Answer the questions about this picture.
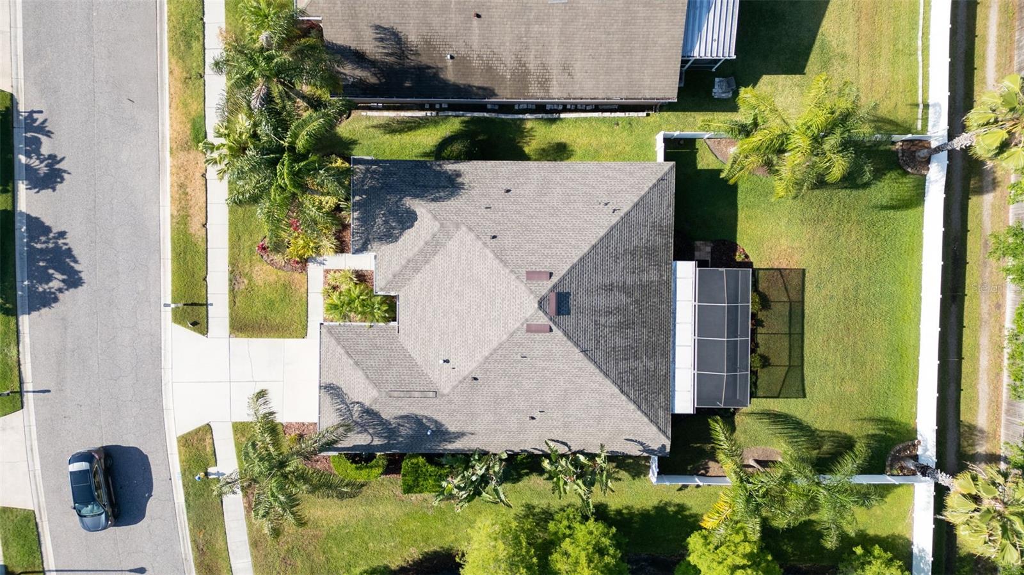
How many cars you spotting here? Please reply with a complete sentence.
My tally gives 1 car in this photo.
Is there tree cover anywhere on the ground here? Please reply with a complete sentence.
Yes, tree cover can be seen from above here.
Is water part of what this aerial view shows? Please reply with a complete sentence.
No, water can't be seen anywhere here.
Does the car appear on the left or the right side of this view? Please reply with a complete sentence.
It is on the left.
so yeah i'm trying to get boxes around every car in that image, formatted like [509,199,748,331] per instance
[69,443,123,529]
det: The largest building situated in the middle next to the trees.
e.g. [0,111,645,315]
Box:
[317,158,675,456]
